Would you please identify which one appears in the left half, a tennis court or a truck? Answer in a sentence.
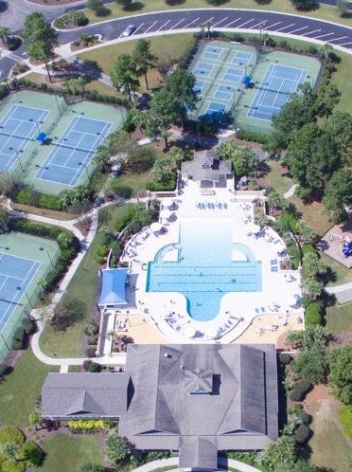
Looking in the left half, you will find a tennis court.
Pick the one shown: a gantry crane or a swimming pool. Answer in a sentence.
I can see a swimming pool in this picture.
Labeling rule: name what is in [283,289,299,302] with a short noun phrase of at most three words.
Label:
umbrella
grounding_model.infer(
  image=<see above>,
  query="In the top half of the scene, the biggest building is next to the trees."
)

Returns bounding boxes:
[178,141,232,179]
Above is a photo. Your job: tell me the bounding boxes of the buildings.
[39,341,279,472]
[178,141,232,179]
